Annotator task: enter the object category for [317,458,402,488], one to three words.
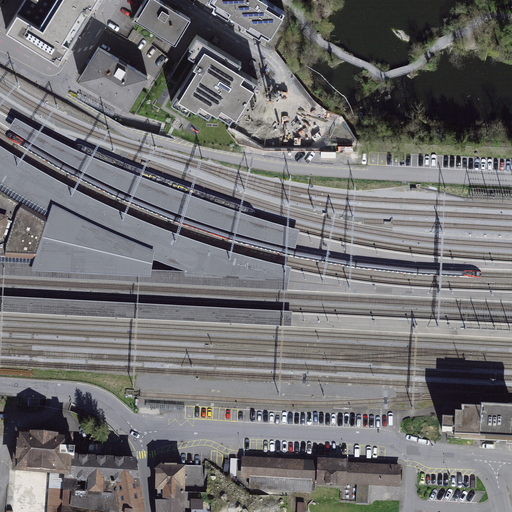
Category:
shed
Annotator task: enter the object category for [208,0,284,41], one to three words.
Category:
building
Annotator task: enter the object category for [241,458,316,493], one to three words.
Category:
shed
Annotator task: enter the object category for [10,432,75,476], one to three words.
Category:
house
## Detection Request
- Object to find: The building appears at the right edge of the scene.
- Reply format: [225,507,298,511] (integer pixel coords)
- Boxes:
[441,402,512,440]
